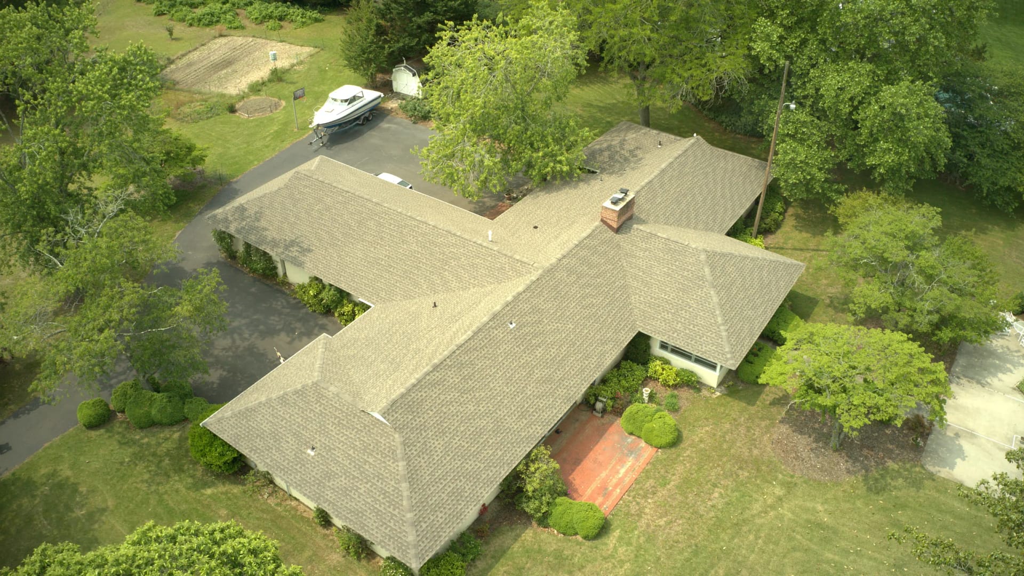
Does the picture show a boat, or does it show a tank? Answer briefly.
boat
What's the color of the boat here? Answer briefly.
white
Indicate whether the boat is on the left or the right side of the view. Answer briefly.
left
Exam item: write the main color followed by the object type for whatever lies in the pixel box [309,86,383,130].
white boat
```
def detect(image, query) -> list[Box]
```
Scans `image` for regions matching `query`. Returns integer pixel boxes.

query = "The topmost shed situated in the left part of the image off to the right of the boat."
[391,63,427,101]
